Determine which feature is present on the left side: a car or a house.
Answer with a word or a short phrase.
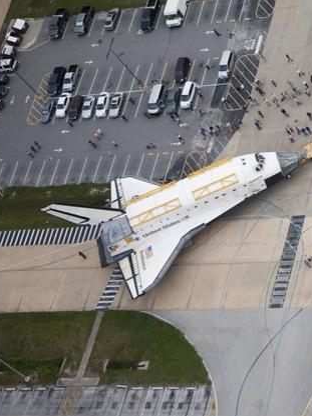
car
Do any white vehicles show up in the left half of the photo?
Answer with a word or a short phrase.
Yes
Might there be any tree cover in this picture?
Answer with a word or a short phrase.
No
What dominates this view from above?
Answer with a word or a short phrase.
paved ground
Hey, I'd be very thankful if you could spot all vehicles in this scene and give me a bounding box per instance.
[216,50,236,81]
[46,65,66,97]
[40,98,57,124]
[162,0,188,30]
[74,7,93,37]
[81,94,98,121]
[105,8,121,32]
[48,10,68,40]
[145,81,166,116]
[61,62,81,94]
[0,72,11,86]
[55,92,71,119]
[304,145,312,165]
[0,45,21,58]
[95,91,112,119]
[68,94,85,121]
[163,86,181,114]
[4,35,25,46]
[0,58,18,73]
[140,0,159,31]
[174,57,192,84]
[108,91,125,118]
[178,79,197,110]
